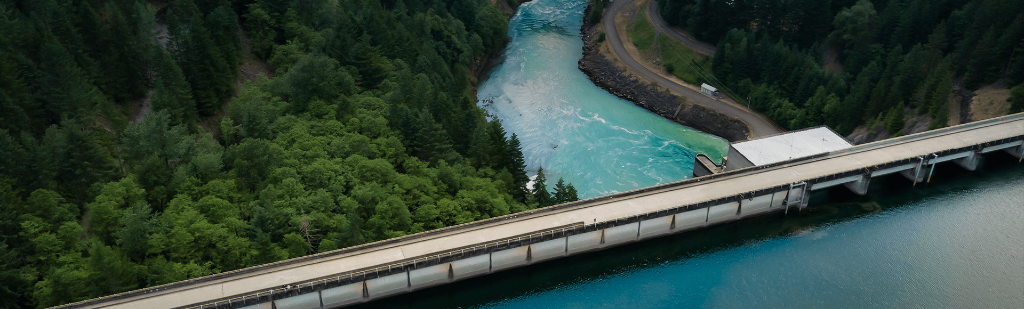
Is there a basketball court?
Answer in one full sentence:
No, this view has no basketball court in it.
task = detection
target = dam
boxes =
[36,113,1024,309]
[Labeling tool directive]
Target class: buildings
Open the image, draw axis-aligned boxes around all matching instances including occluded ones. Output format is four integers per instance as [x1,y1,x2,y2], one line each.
[700,85,721,101]
[728,122,859,171]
